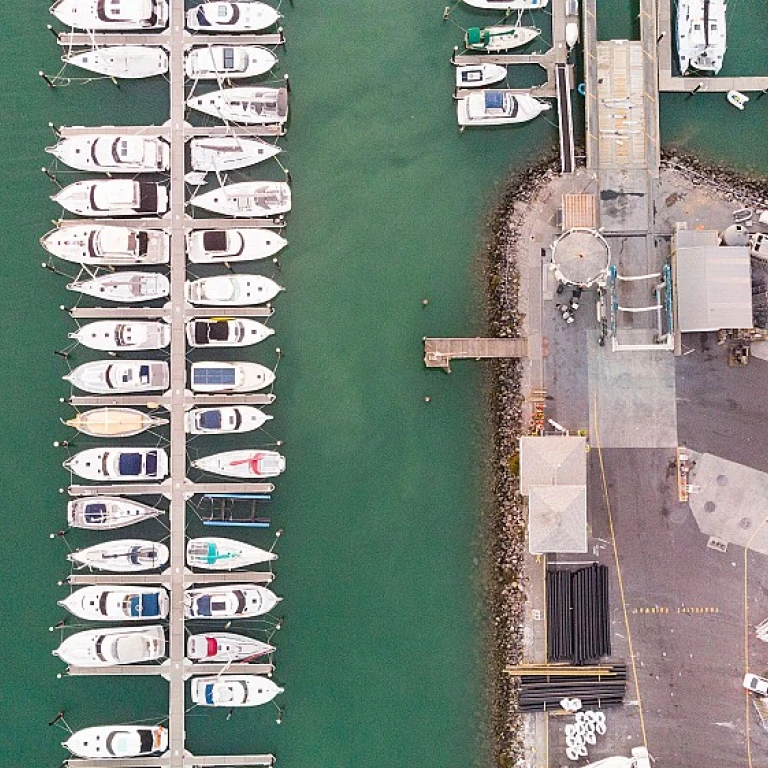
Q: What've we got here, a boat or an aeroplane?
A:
boat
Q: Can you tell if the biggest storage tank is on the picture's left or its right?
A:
right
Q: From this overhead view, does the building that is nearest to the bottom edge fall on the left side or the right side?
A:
right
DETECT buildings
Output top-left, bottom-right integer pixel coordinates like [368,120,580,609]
[520,432,588,554]
[664,230,753,332]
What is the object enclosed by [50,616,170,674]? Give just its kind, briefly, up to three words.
boat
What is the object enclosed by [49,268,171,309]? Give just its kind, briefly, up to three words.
boat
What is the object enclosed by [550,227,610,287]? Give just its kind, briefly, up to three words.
storage tank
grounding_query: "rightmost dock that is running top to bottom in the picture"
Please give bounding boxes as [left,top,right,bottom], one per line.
[639,0,662,169]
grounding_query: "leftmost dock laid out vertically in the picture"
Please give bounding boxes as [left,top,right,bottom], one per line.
[52,0,290,768]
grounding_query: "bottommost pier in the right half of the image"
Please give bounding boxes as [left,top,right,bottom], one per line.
[422,336,530,374]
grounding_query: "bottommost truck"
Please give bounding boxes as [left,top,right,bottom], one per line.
[629,742,655,768]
